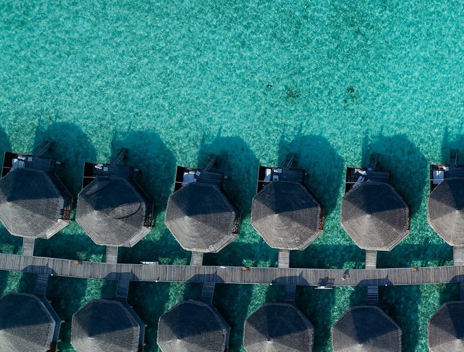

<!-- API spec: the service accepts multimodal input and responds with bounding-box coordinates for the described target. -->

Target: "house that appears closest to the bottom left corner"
[0,289,72,352]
